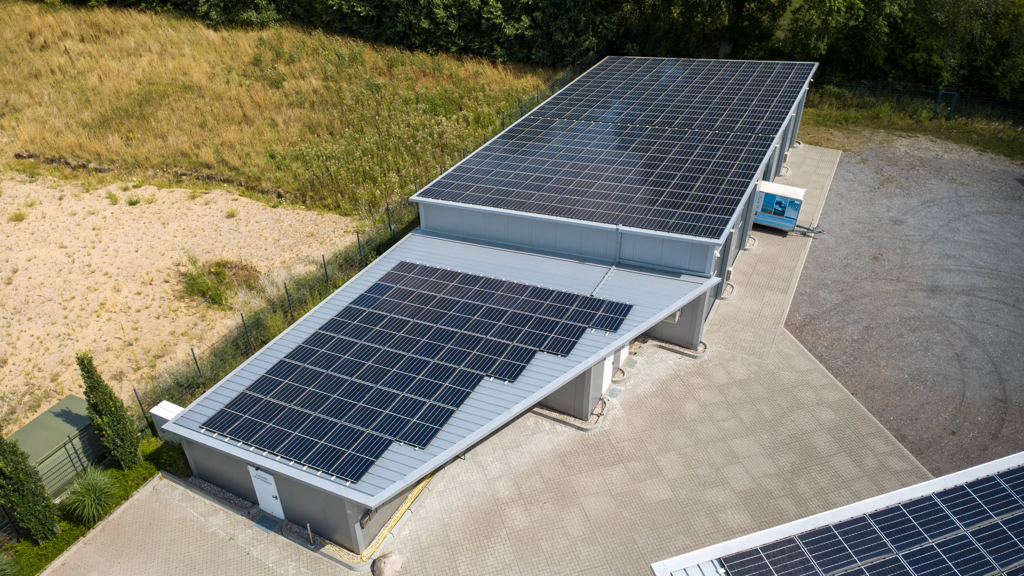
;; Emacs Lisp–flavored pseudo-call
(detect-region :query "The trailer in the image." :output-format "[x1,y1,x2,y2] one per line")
[755,180,830,236]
